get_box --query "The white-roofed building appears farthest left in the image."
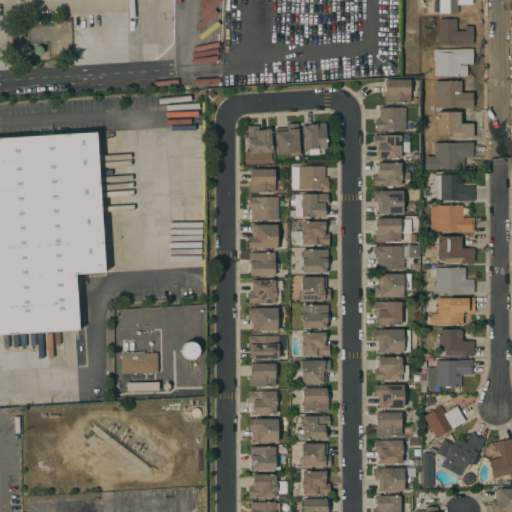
[0,132,108,335]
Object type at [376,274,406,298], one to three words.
house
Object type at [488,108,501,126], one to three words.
vehicle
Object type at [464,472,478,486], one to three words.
gazebo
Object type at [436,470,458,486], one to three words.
swimming pool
